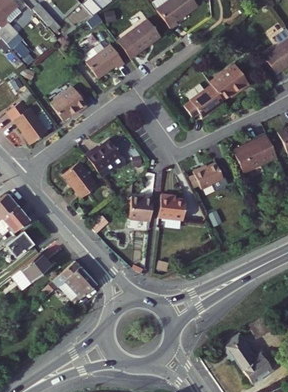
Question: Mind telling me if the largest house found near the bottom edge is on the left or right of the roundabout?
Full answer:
You can see the largest house found near the bottom edge positioned to the right of the roundabout.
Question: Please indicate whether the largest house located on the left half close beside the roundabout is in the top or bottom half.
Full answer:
It is in the bottom half that the largest house located on the left half close beside the roundabout appears.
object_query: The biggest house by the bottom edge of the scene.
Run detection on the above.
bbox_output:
[229,342,264,378]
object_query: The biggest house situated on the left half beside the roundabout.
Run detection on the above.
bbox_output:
[66,268,100,302]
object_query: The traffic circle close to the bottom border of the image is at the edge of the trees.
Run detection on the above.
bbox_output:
[86,284,188,374]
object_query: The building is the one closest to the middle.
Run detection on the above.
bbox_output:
[128,195,154,222]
